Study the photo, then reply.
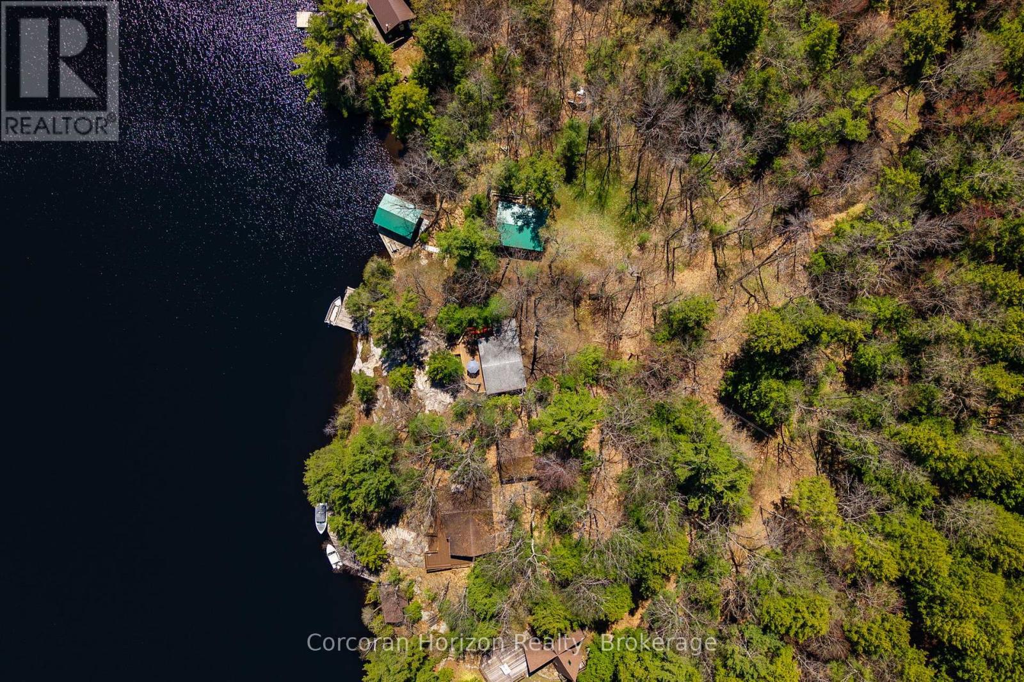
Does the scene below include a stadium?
No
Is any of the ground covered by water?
Yes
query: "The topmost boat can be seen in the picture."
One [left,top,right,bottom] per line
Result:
[324,298,338,326]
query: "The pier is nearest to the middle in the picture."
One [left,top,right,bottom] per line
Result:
[337,287,370,334]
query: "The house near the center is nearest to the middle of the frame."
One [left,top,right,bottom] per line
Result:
[478,319,526,394]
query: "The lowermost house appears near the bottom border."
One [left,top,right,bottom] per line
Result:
[522,620,585,682]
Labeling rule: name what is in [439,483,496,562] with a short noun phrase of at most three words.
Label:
house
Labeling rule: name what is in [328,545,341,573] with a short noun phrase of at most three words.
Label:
boat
